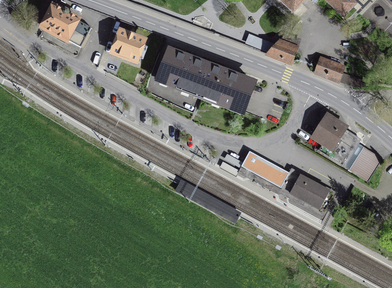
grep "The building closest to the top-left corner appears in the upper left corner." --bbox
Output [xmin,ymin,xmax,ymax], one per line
[39,4,82,44]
